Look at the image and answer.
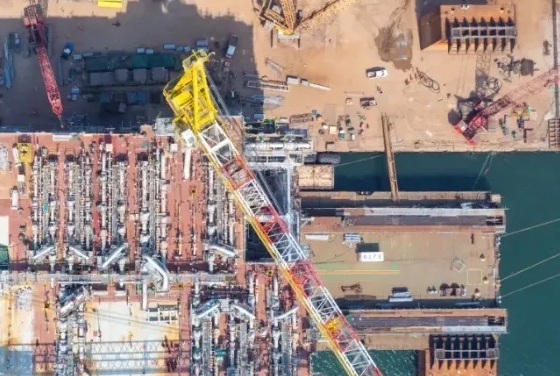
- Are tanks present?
Yes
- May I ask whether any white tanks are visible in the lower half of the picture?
No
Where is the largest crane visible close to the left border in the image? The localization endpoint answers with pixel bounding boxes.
[20,7,65,129]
